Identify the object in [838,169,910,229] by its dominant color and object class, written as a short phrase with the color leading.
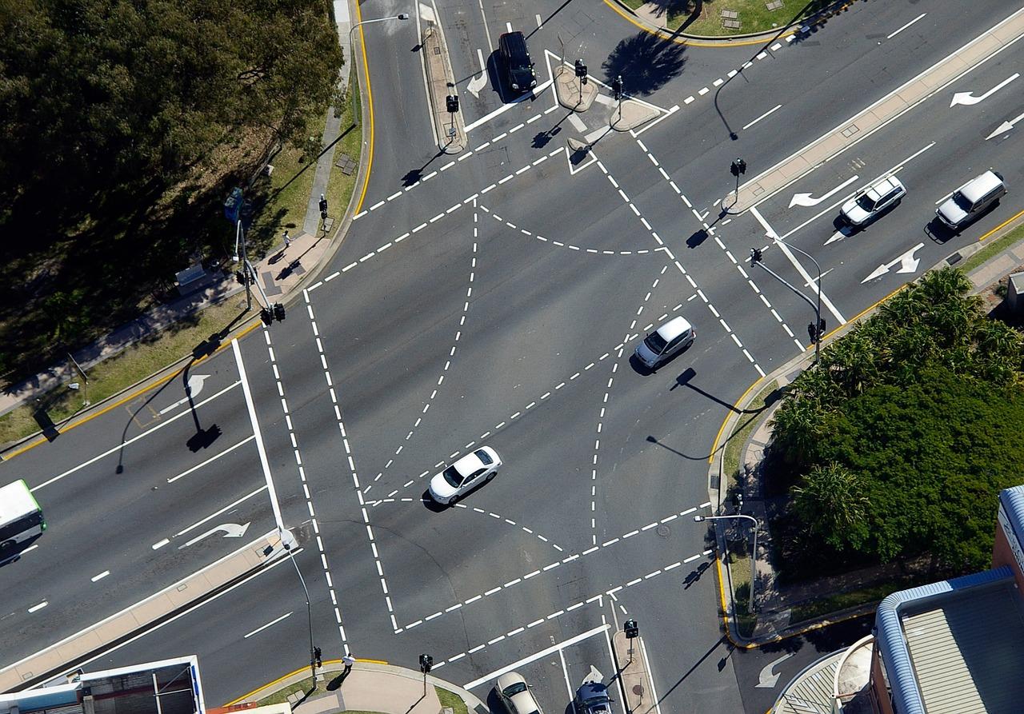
white car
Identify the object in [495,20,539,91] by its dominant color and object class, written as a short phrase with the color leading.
black car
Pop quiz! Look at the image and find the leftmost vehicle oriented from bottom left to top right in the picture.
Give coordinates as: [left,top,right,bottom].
[425,444,502,507]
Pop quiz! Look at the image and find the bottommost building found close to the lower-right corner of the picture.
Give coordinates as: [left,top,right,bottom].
[773,562,1024,714]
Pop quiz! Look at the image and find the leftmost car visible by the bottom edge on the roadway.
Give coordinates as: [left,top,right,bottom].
[499,673,549,714]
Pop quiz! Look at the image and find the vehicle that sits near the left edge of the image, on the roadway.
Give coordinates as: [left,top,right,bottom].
[0,480,48,561]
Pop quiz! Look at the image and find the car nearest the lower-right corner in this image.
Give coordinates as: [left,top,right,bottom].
[577,683,616,714]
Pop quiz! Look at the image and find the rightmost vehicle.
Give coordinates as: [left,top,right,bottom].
[930,166,1009,238]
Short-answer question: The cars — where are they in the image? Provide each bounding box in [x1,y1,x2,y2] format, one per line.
[499,673,549,714]
[577,683,616,714]
[838,169,910,229]
[495,20,539,91]
[635,312,699,370]
[930,166,1009,238]
[425,444,502,507]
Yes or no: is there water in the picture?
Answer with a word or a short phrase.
No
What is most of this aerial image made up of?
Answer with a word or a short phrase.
paved ground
